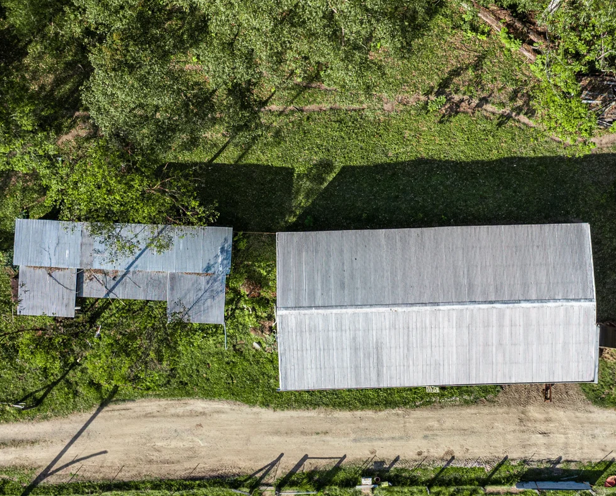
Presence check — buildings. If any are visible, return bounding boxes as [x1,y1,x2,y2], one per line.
[274,223,601,392]
[14,218,235,350]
